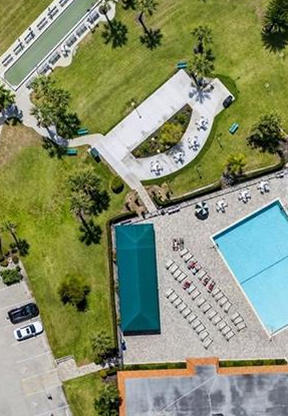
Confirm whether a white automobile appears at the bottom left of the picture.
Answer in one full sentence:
Yes, the scene does show a white automobile at the bottom left of the picture.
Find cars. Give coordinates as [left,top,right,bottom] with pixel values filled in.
[7,303,40,322]
[13,322,44,340]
